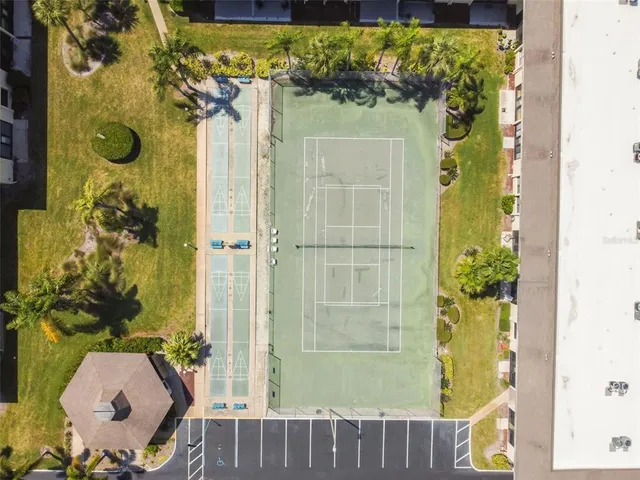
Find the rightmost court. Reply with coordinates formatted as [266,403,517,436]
[267,79,441,418]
